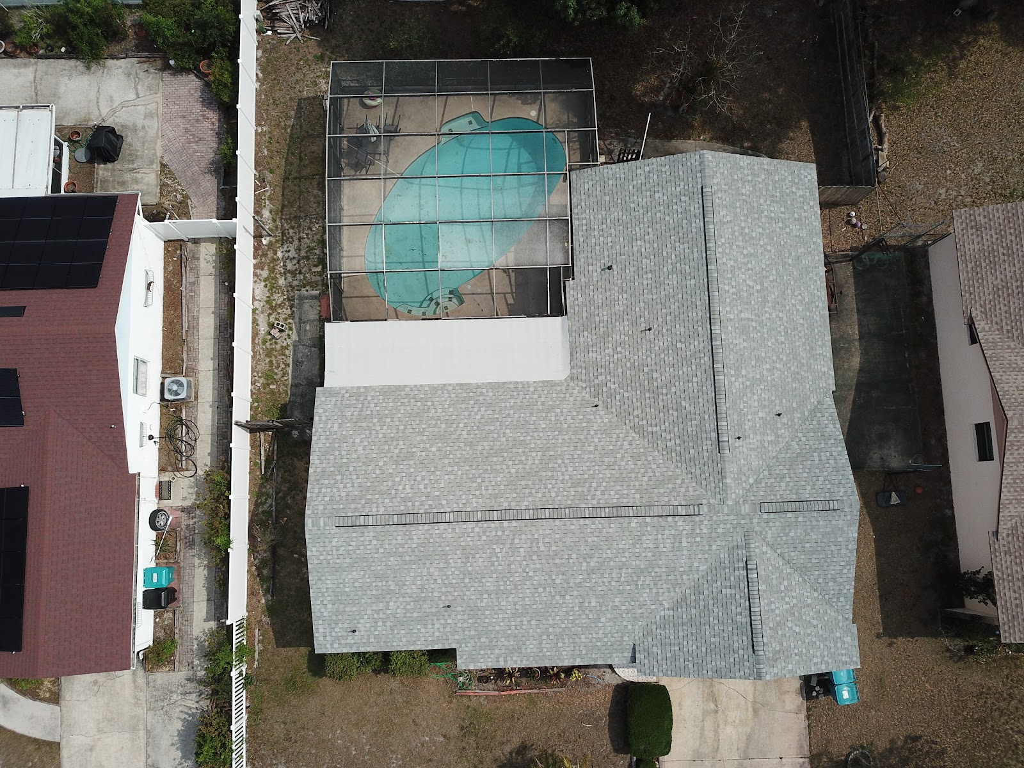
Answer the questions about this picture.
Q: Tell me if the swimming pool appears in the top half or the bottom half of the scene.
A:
top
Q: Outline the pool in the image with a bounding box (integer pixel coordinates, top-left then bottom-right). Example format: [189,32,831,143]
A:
[365,111,566,316]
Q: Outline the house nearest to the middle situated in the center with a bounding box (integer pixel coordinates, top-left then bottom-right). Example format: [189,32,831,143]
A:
[305,151,861,680]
